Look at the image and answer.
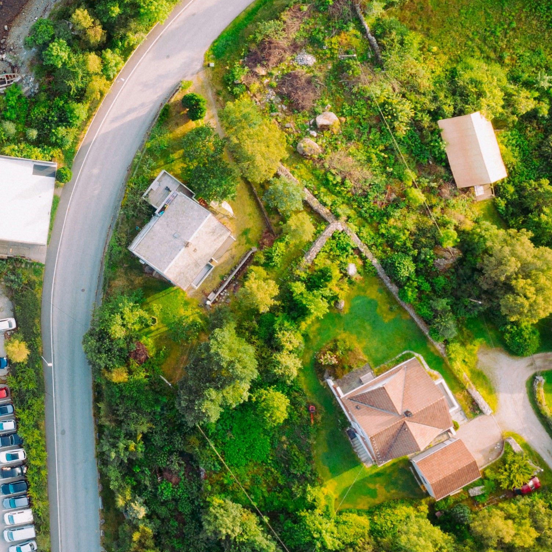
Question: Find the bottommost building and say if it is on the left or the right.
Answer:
right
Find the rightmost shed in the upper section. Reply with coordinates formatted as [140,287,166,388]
[433,111,507,201]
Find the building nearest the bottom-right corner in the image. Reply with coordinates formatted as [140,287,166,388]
[411,437,481,500]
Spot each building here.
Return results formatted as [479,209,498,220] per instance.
[0,155,58,263]
[411,437,481,500]
[322,356,461,466]
[433,111,507,201]
[128,170,251,291]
